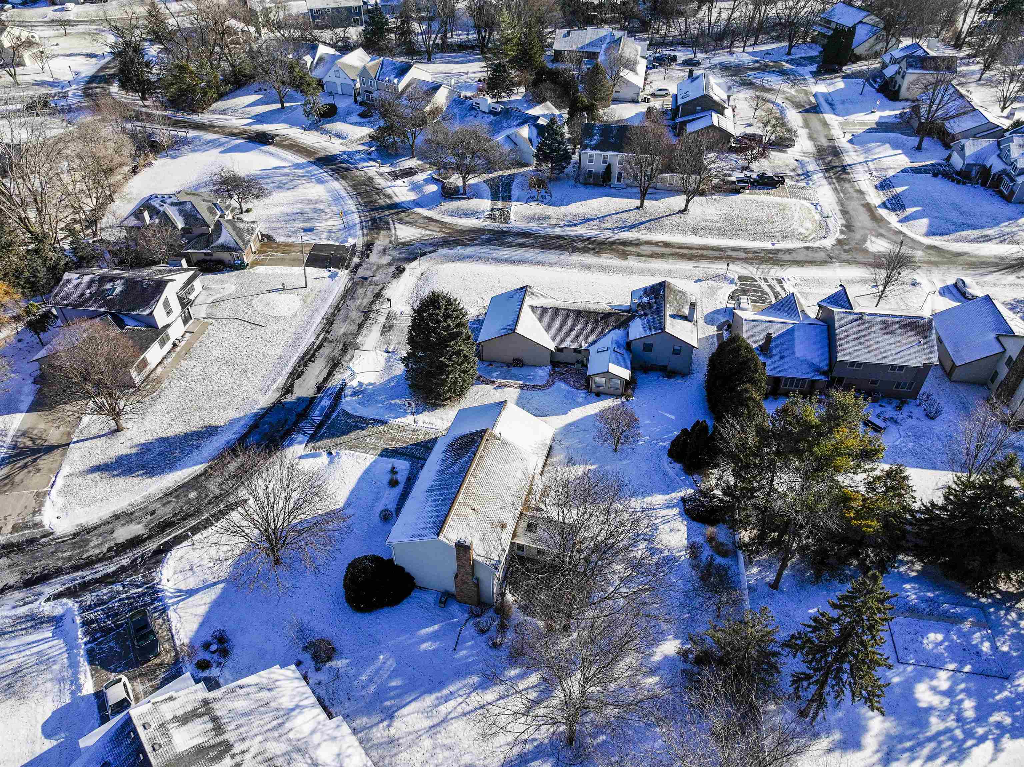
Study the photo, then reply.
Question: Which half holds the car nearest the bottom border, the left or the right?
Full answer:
The car nearest the bottom border is on the left side of the image.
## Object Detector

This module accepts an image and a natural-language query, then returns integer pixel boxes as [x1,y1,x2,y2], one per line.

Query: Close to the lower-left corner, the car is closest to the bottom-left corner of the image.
[96,663,133,715]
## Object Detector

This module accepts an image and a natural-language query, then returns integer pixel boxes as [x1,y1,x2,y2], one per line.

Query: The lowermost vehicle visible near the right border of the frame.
[954,274,983,299]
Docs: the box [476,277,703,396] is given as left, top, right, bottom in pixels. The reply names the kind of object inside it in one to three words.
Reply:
house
